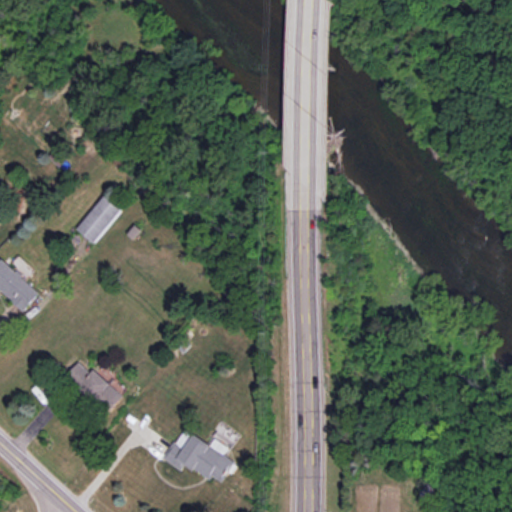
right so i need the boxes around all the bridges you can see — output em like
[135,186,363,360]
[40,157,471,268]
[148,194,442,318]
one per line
[282,0,336,210]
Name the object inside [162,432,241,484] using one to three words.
house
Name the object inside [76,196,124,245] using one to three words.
barn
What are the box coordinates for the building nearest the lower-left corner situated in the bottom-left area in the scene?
[70,362,125,414]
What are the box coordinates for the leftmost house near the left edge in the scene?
[0,257,40,310]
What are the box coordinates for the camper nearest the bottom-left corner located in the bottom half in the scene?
[32,386,47,405]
